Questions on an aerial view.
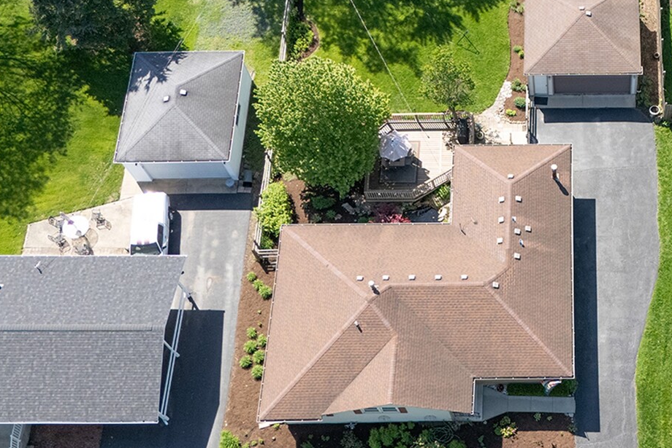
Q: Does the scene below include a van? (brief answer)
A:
Yes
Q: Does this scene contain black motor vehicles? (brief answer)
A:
No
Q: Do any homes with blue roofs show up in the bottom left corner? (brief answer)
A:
No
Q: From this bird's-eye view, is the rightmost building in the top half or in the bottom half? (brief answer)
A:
top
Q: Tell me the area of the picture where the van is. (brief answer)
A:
left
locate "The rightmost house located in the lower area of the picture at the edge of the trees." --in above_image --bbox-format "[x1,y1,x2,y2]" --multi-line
[254,143,576,440]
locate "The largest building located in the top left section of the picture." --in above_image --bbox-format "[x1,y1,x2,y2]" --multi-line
[111,50,252,179]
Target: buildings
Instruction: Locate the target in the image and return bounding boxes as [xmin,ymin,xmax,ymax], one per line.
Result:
[254,143,576,440]
[111,50,252,179]
[523,0,643,94]
[0,253,195,448]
